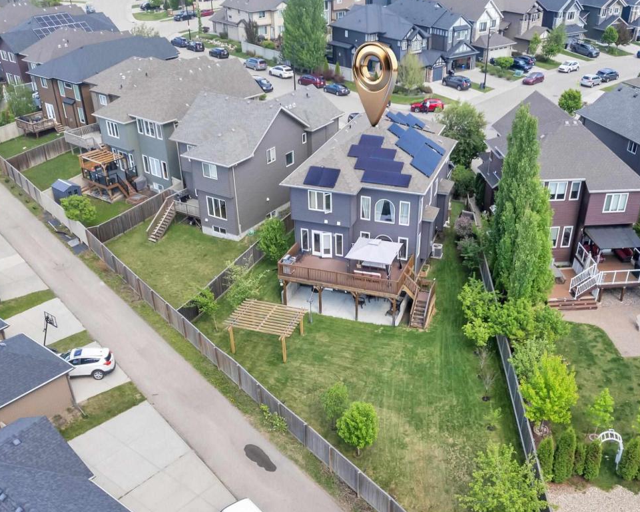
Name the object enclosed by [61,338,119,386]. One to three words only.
car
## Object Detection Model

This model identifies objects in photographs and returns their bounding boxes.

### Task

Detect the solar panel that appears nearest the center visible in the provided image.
[304,167,340,188]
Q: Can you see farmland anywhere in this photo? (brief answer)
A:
No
